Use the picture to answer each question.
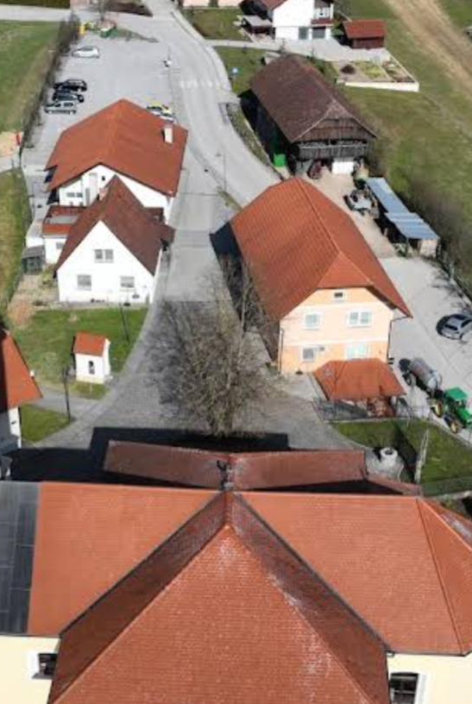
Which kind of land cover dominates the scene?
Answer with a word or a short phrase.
buildings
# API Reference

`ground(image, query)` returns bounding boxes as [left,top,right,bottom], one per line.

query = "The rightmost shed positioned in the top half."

[373,205,442,260]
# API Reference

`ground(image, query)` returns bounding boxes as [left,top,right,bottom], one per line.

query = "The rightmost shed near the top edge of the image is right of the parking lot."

[346,22,387,48]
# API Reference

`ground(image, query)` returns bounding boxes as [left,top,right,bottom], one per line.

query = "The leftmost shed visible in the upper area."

[22,243,50,271]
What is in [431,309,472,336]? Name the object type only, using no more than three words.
car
